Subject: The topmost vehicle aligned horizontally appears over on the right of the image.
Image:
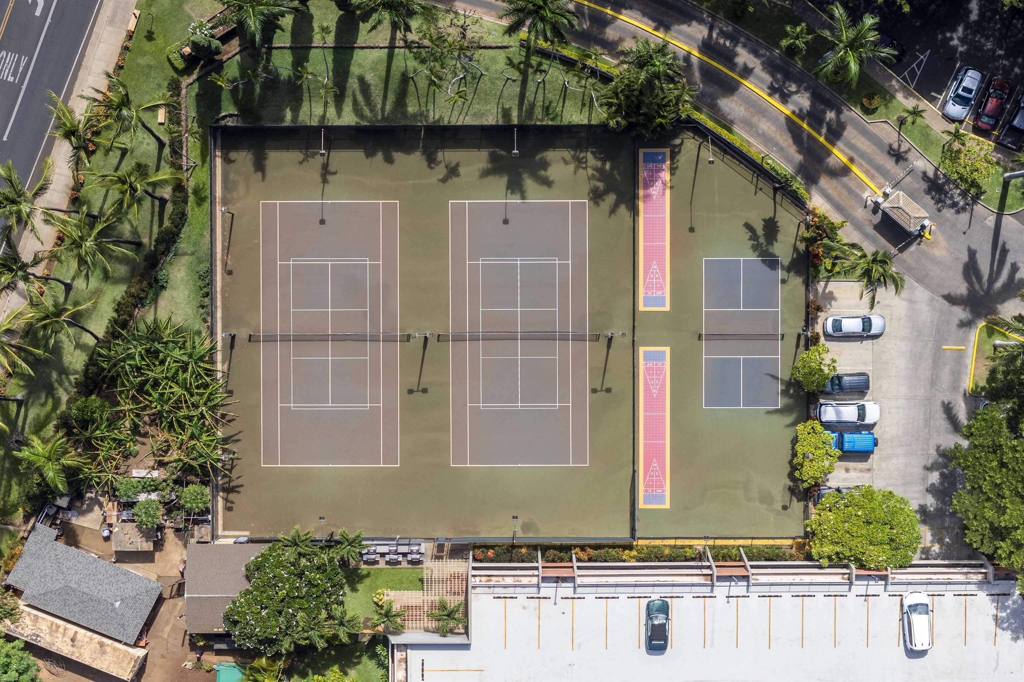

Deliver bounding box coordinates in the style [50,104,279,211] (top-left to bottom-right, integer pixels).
[823,312,885,339]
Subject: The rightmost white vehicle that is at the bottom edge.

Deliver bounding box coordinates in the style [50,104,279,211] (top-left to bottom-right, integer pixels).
[903,592,933,652]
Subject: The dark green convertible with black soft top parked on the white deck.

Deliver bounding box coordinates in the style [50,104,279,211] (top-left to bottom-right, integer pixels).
[644,599,672,651]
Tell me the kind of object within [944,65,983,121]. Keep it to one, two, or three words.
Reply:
car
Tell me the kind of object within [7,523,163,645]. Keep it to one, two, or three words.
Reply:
house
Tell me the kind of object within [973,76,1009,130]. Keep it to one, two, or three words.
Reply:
car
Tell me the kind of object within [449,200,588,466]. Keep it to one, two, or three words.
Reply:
tennis court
